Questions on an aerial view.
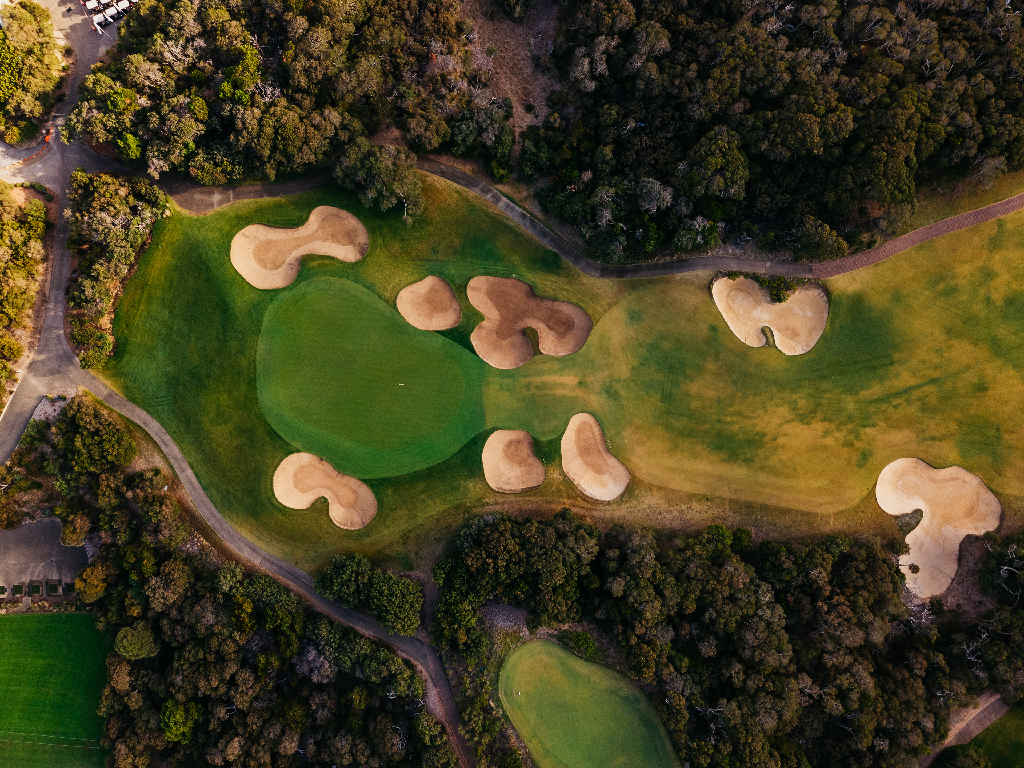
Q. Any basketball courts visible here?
No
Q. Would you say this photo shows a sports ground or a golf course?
golf course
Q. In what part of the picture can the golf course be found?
center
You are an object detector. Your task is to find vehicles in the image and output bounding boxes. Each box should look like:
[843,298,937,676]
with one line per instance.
[86,0,104,15]
[93,14,112,29]
[100,0,118,10]
[118,0,135,15]
[106,7,124,22]
[131,0,142,6]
